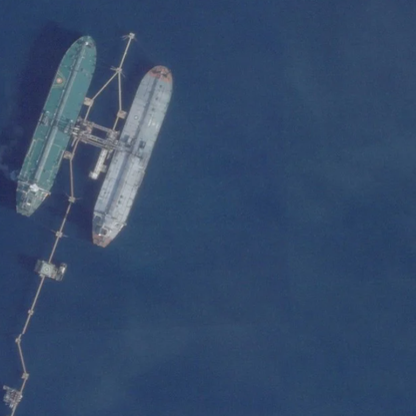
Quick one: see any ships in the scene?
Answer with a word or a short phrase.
Yes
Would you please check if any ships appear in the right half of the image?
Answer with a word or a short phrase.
No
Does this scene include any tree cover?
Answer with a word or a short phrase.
No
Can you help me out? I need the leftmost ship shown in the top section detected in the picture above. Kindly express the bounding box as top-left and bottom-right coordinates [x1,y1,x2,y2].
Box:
[17,35,95,214]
